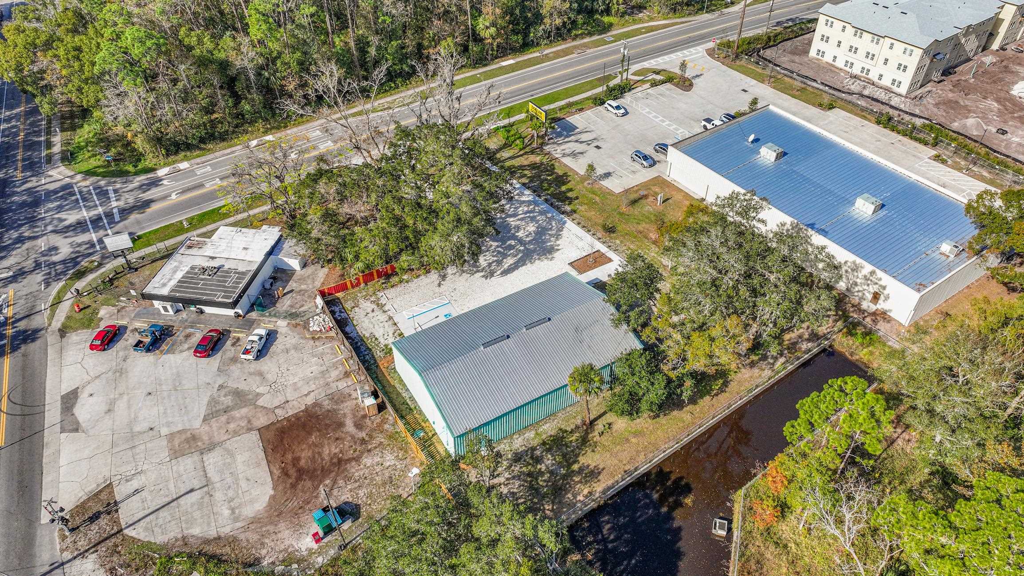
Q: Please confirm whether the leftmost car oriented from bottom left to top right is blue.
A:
No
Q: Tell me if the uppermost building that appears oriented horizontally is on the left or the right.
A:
right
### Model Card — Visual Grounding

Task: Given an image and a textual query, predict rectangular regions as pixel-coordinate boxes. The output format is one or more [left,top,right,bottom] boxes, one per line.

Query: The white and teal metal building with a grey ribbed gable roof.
[389,269,648,459]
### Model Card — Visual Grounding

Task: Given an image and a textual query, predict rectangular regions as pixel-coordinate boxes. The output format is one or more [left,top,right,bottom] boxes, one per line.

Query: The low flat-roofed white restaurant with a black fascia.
[141,226,314,314]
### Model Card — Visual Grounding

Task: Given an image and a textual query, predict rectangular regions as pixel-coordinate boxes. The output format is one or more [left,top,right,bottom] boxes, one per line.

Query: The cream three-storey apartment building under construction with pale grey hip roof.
[809,0,1024,95]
